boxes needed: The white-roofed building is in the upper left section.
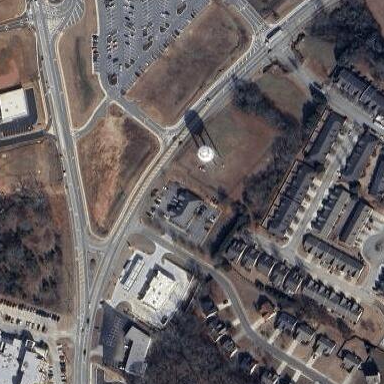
[0,88,28,120]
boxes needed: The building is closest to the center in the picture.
[172,195,207,228]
